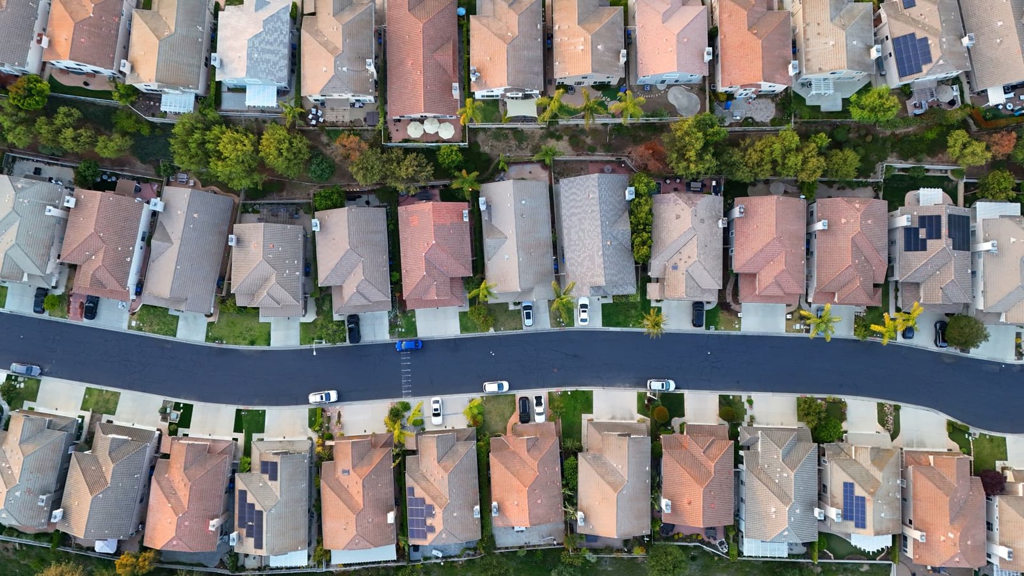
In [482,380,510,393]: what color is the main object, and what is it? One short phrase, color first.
white vehicle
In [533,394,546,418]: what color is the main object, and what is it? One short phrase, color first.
white vehicle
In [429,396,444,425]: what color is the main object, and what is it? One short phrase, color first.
white car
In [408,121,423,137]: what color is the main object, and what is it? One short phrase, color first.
white umbrella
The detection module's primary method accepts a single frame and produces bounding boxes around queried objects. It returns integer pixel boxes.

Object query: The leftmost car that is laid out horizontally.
[11,362,44,378]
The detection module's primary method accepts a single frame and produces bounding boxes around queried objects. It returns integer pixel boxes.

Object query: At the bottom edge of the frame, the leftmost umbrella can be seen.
[98,541,114,553]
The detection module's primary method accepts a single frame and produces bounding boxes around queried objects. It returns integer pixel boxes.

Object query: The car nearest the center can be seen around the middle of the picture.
[521,300,534,327]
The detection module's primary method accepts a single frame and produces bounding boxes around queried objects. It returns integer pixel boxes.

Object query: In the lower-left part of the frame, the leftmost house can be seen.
[0,399,82,527]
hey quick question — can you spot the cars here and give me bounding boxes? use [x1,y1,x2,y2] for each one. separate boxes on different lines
[346,314,361,344]
[517,396,531,419]
[645,377,676,393]
[31,285,52,316]
[85,303,99,320]
[521,300,534,327]
[11,362,44,378]
[308,389,340,404]
[932,319,948,348]
[577,297,590,326]
[900,314,915,342]
[429,396,444,425]
[692,303,704,327]
[395,339,423,352]
[482,380,510,393]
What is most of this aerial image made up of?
buildings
